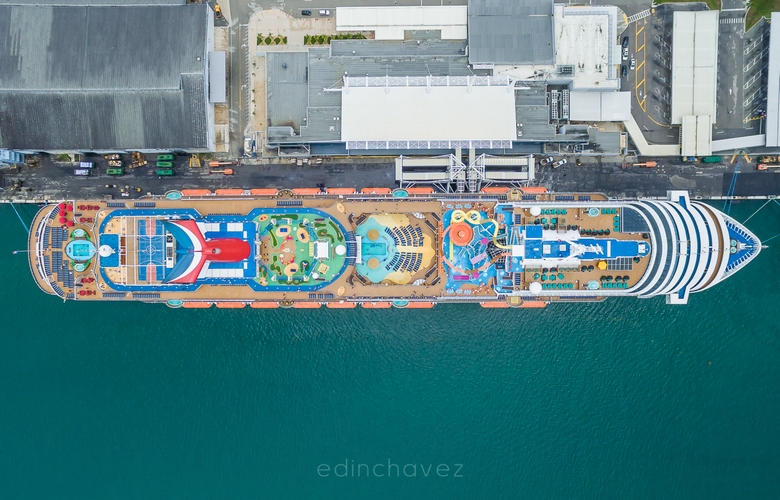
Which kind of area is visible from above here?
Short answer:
port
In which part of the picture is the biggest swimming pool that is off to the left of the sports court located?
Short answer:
left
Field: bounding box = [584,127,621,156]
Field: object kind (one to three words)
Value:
building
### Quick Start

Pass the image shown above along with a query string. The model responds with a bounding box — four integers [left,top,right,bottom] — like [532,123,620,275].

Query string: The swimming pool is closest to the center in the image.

[362,231,395,269]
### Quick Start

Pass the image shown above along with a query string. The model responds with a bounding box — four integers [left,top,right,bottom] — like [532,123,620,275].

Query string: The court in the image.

[138,220,166,282]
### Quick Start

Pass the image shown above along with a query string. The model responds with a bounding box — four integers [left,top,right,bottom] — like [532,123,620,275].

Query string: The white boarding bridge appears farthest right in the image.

[465,149,535,193]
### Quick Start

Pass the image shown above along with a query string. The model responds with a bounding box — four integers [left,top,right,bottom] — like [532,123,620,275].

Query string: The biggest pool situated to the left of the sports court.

[66,238,96,263]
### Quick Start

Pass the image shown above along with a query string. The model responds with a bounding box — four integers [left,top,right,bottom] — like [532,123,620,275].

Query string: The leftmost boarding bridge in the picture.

[395,149,465,194]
